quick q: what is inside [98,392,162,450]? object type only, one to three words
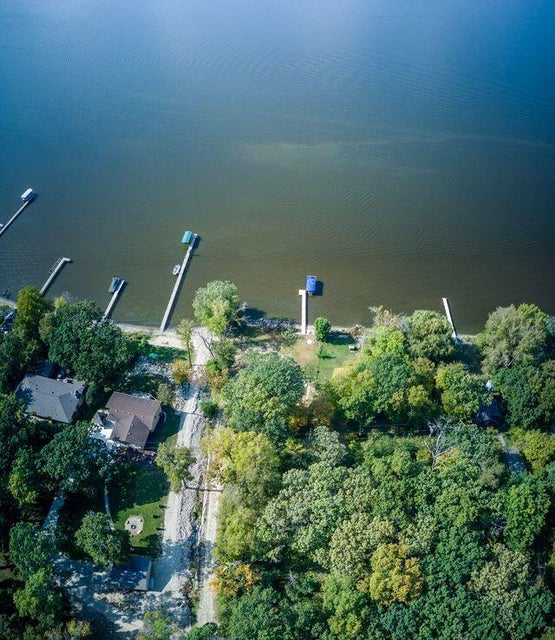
house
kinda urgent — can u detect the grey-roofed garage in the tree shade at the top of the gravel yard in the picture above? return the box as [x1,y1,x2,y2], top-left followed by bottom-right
[114,554,152,591]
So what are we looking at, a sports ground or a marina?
marina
